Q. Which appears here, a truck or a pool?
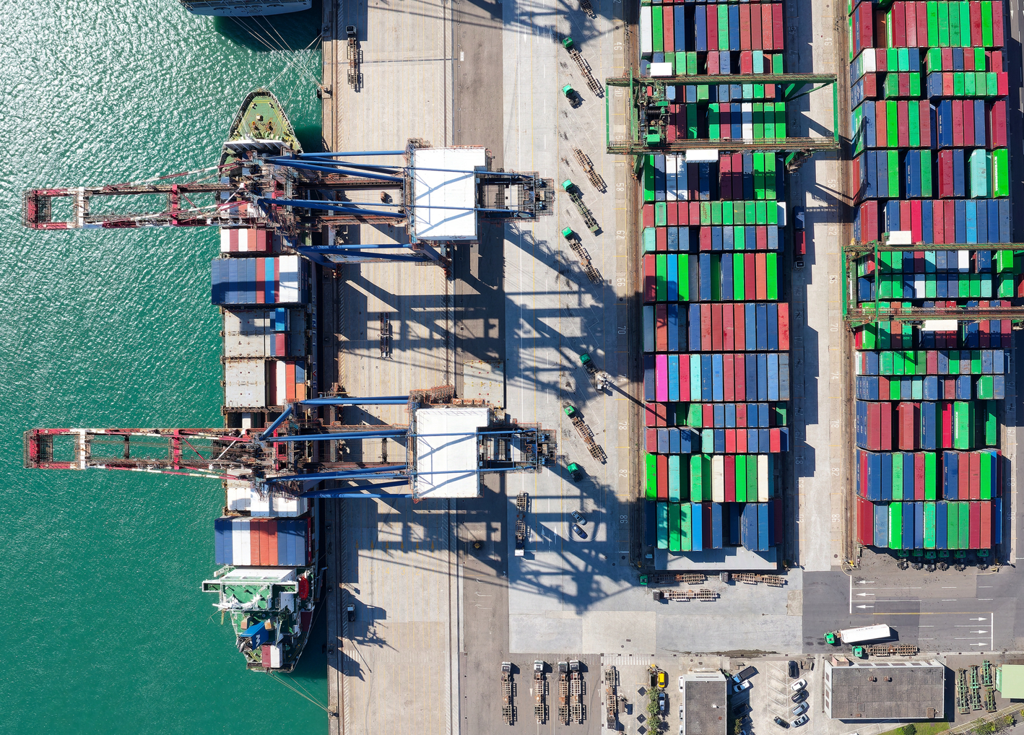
truck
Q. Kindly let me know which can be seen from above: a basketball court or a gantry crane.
gantry crane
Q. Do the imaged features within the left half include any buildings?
No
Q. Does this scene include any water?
Yes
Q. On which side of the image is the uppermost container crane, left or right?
right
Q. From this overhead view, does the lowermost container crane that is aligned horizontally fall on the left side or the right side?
left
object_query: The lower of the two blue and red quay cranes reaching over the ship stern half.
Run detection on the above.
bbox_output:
[15,367,561,508]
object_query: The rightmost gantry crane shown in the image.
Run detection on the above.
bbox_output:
[841,230,1024,331]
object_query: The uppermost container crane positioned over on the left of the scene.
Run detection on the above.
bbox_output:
[12,123,559,282]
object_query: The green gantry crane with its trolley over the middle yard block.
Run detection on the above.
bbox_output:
[607,61,838,171]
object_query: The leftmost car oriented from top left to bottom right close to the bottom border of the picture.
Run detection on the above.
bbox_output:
[774,715,790,730]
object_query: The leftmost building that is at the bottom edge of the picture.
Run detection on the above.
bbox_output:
[679,666,727,735]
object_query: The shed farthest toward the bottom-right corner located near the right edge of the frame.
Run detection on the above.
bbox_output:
[992,661,1024,699]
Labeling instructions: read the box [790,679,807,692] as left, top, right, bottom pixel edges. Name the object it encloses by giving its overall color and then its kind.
white vehicle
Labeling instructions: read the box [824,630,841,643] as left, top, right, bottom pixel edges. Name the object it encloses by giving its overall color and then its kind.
green vehicle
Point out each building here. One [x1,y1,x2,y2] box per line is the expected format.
[992,661,1024,699]
[822,650,945,718]
[654,545,777,569]
[679,666,727,735]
